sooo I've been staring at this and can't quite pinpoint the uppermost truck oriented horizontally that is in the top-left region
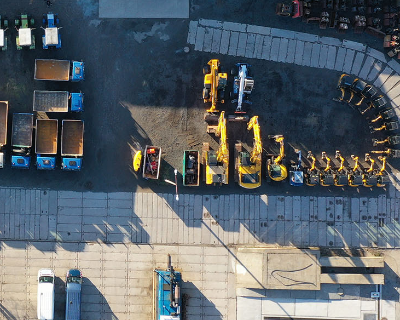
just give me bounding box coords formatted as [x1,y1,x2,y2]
[35,59,86,84]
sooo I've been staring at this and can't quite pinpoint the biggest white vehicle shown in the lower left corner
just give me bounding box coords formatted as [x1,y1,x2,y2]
[35,266,56,319]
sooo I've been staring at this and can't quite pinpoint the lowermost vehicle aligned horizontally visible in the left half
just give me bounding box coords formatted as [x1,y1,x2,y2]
[34,91,85,115]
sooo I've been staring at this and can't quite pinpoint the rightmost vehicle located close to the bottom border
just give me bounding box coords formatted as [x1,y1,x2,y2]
[64,267,84,320]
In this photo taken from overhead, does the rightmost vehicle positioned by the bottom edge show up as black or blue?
blue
